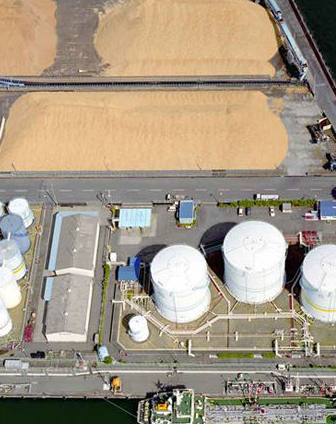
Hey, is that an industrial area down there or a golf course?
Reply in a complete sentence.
This image shows an industrial area.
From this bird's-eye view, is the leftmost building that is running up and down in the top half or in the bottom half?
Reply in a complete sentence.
You can find the leftmost building that is running up and down in the bottom half.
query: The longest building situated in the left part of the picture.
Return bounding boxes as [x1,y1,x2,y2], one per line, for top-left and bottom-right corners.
[44,210,99,342]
